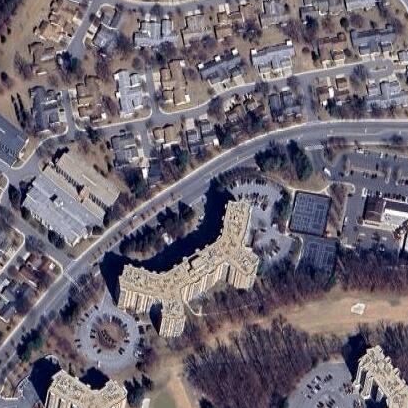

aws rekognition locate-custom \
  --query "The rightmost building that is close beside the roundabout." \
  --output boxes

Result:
[117,200,260,337]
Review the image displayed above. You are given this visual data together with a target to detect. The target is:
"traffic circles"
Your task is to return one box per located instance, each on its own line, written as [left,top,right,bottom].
[75,303,141,369]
